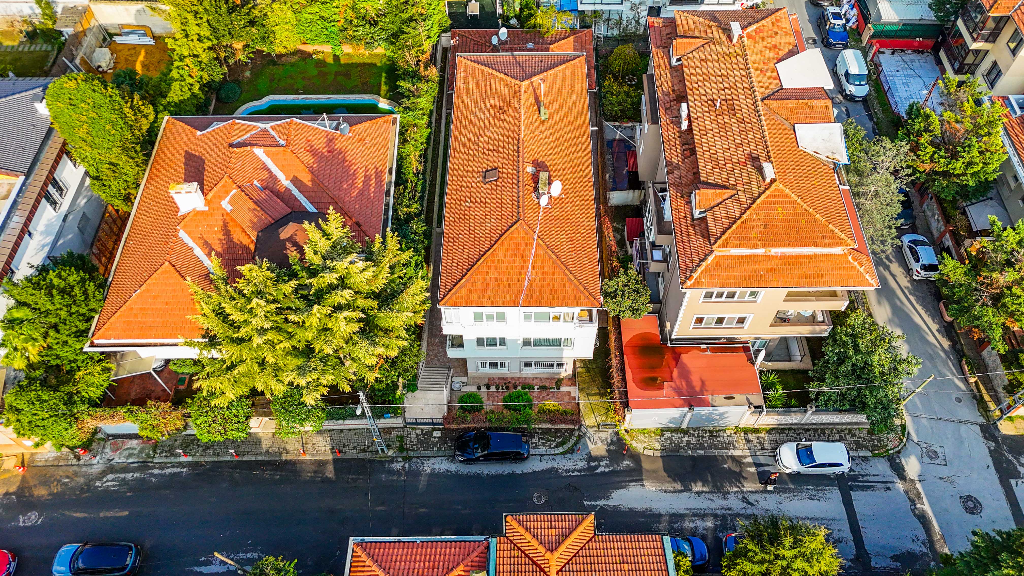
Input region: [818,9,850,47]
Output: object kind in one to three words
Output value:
car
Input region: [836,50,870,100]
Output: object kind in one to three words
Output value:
vehicle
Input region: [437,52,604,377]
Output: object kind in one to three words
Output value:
house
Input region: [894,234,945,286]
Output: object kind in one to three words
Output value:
car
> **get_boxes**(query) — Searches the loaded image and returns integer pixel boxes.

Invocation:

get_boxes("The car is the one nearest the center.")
[454,427,531,467]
